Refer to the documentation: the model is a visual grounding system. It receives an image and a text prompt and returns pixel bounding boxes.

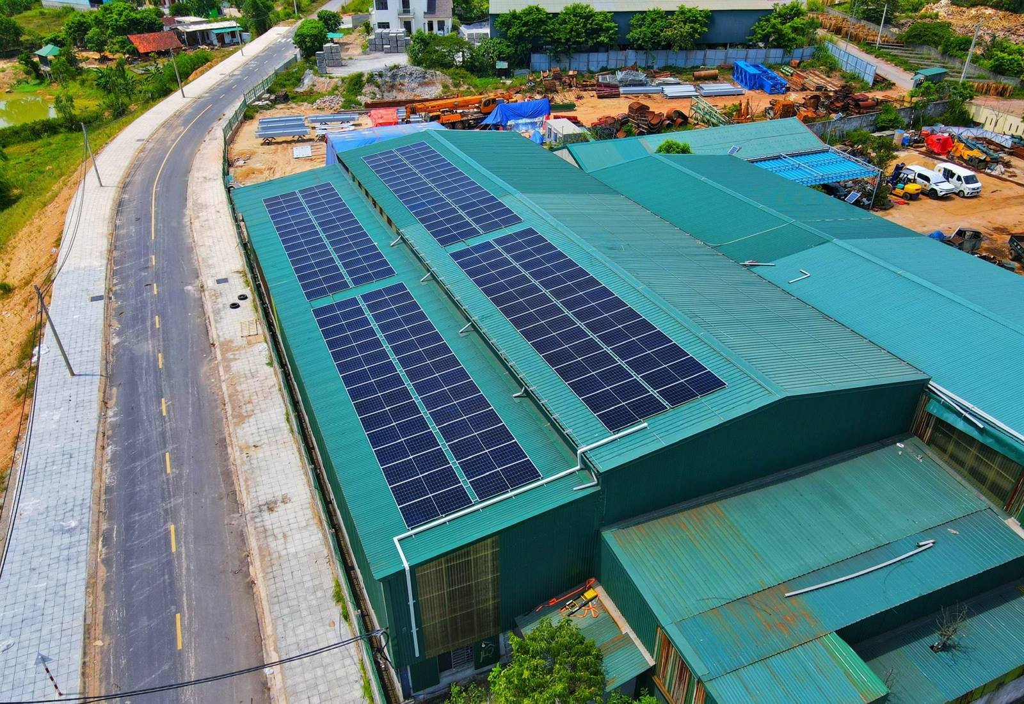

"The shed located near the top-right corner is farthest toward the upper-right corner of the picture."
[913,62,961,87]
